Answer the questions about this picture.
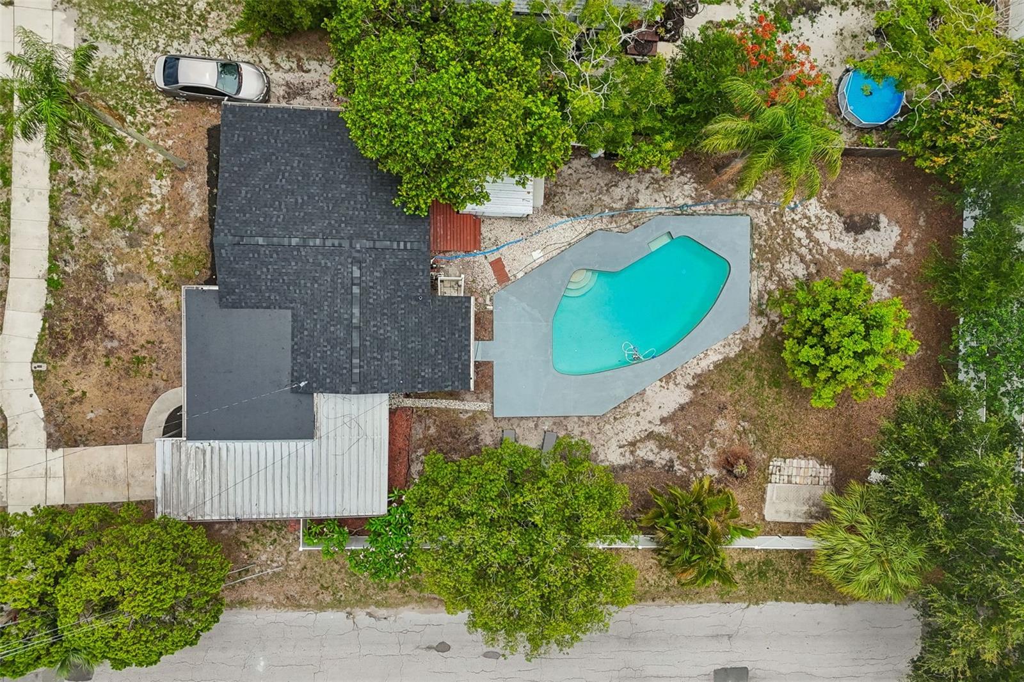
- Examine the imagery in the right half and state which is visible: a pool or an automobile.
pool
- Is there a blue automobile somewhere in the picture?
No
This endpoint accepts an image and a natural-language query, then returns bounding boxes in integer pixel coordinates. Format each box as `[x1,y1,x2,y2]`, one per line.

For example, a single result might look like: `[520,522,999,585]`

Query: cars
[148,48,273,105]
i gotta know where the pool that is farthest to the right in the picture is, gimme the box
[825,65,904,138]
